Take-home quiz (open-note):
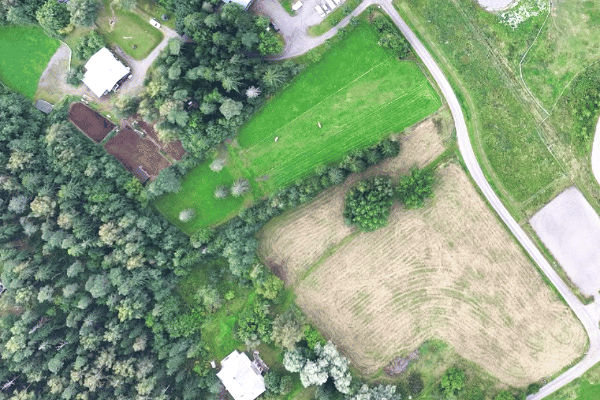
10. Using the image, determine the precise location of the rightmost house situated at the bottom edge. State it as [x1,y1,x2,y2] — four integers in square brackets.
[216,355,269,400]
